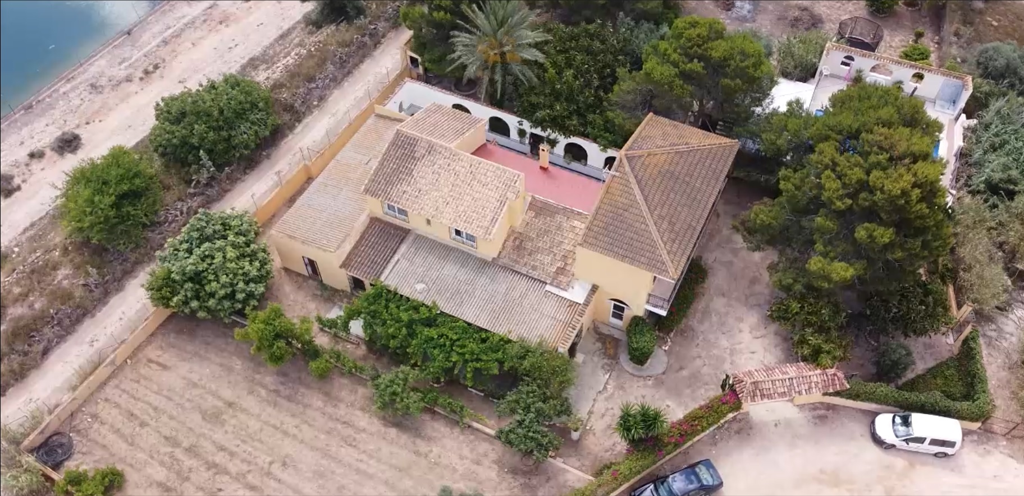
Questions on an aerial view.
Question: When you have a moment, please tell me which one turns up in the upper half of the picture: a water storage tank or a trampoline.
trampoline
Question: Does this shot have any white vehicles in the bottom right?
Yes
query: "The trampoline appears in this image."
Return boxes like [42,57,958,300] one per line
[837,10,888,49]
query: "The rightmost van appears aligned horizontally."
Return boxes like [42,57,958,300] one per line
[869,409,968,459]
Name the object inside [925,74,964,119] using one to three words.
building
